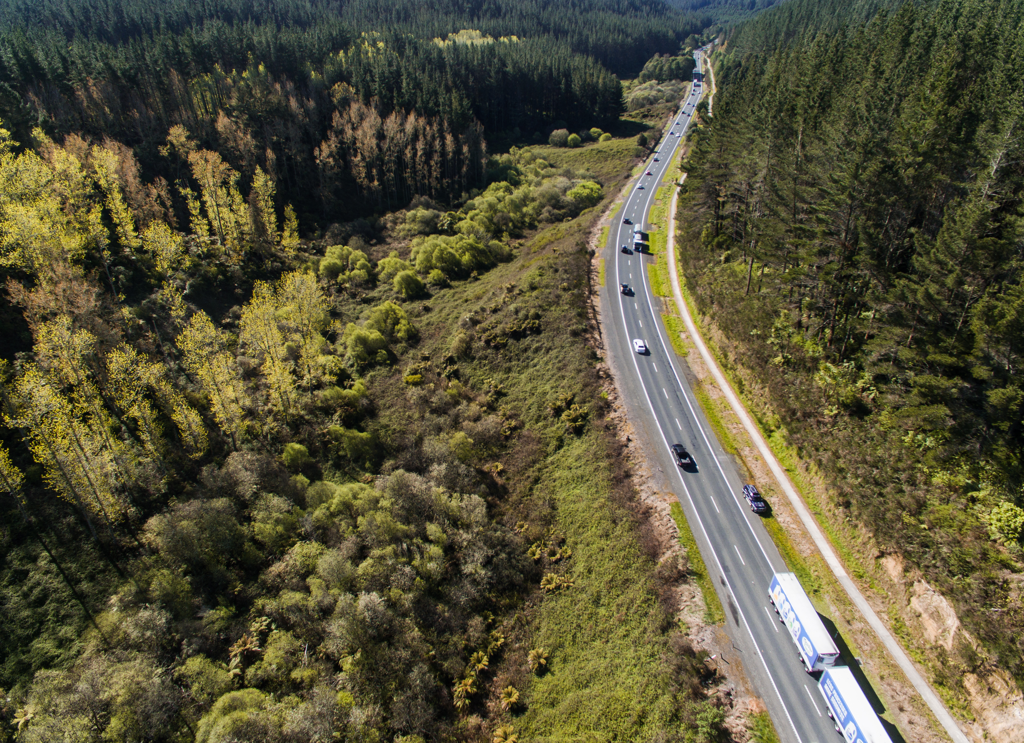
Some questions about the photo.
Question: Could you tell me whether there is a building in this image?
No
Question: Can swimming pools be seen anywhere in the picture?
No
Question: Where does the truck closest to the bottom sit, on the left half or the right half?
right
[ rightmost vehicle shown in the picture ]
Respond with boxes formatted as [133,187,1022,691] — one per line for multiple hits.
[818,665,894,743]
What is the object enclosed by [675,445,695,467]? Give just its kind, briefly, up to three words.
vehicle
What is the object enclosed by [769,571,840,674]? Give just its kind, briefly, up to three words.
trailer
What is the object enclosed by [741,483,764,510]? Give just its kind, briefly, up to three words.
car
